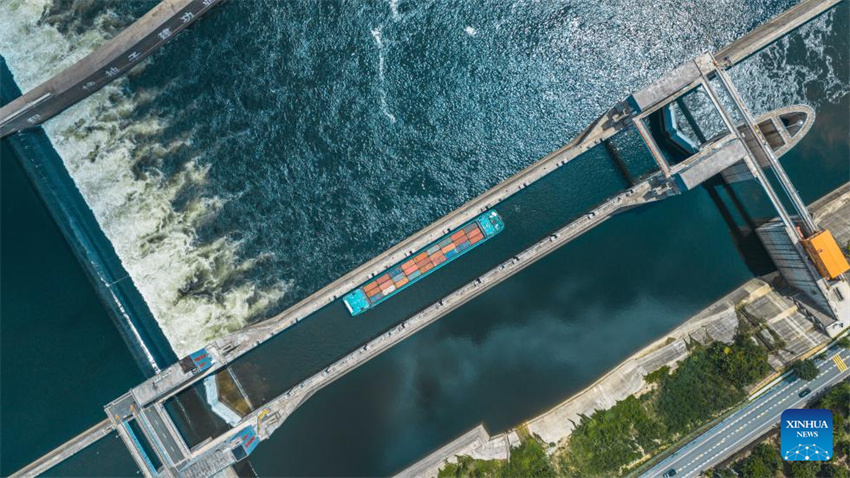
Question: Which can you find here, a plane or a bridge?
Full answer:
I can see a bridge in this picture.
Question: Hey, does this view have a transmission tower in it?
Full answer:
No, no transmission tower is visible in the scene.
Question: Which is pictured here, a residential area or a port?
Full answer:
This image shows a port.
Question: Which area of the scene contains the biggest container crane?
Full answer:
The biggest container crane is in the right part of the image.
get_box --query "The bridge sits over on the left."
[141,402,190,470]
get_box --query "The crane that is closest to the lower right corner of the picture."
[794,226,849,276]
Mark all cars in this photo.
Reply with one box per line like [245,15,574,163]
[798,390,809,399]
[665,469,676,478]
